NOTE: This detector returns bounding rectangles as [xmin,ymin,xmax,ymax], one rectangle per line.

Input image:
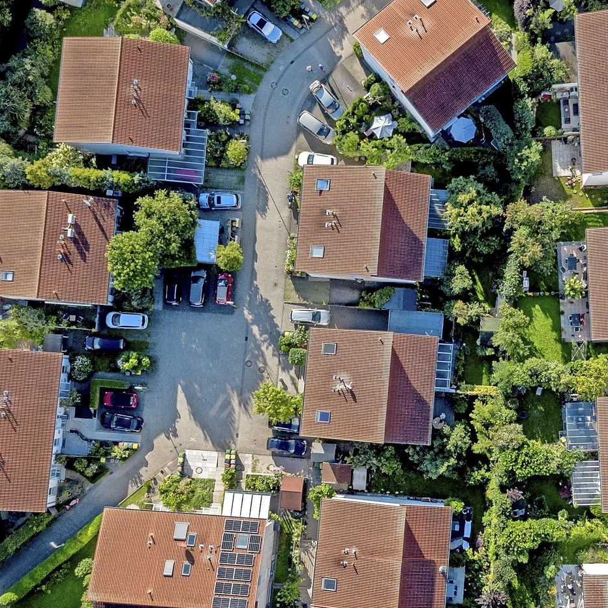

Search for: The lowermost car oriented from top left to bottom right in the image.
[295,109,337,143]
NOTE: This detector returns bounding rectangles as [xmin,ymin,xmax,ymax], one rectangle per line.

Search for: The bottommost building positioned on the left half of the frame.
[87,504,274,608]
